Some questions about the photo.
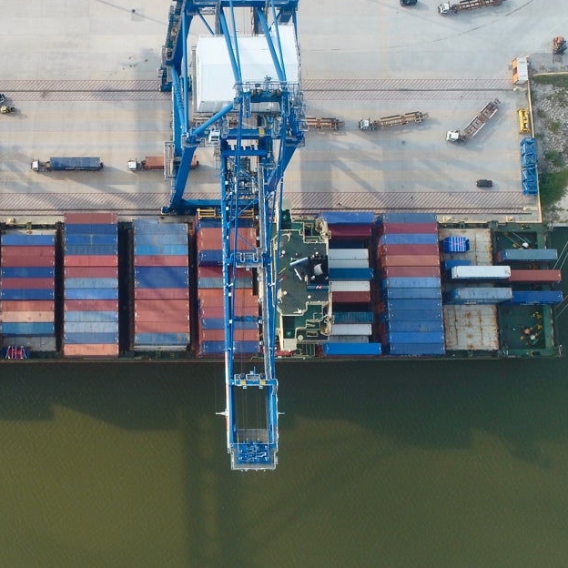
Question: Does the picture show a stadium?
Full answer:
No, there appears to be no stadium in this shot.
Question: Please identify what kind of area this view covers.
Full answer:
This looks like a port.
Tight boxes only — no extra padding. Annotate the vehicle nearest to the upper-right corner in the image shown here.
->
[551,34,568,61]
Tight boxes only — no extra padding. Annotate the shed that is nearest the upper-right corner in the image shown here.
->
[507,53,532,83]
